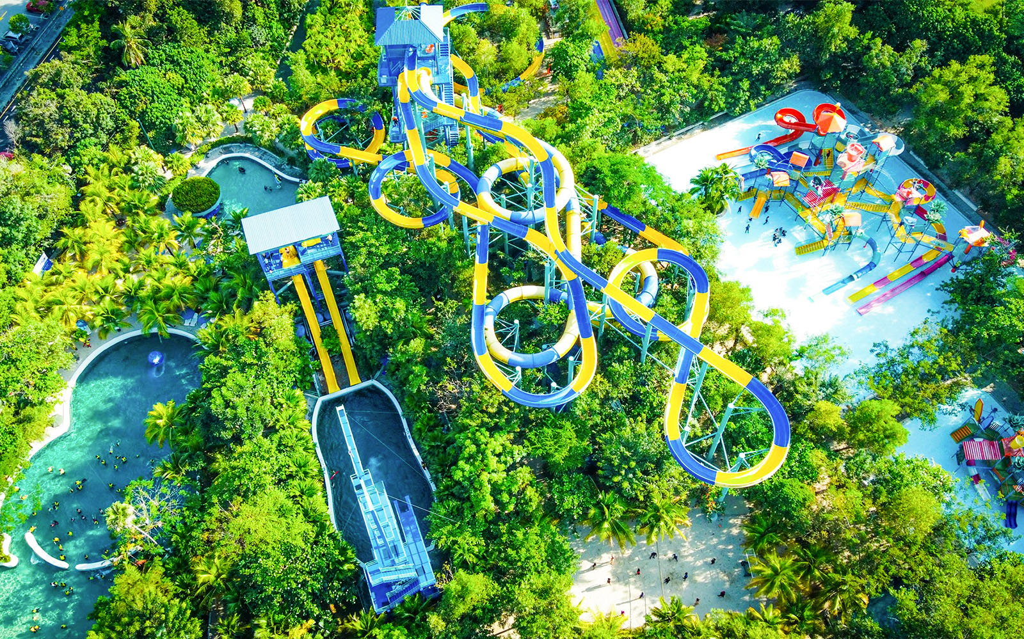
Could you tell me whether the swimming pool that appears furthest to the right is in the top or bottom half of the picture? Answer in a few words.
bottom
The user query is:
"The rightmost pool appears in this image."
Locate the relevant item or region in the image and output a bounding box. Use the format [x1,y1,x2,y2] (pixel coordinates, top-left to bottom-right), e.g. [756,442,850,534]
[315,384,455,624]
